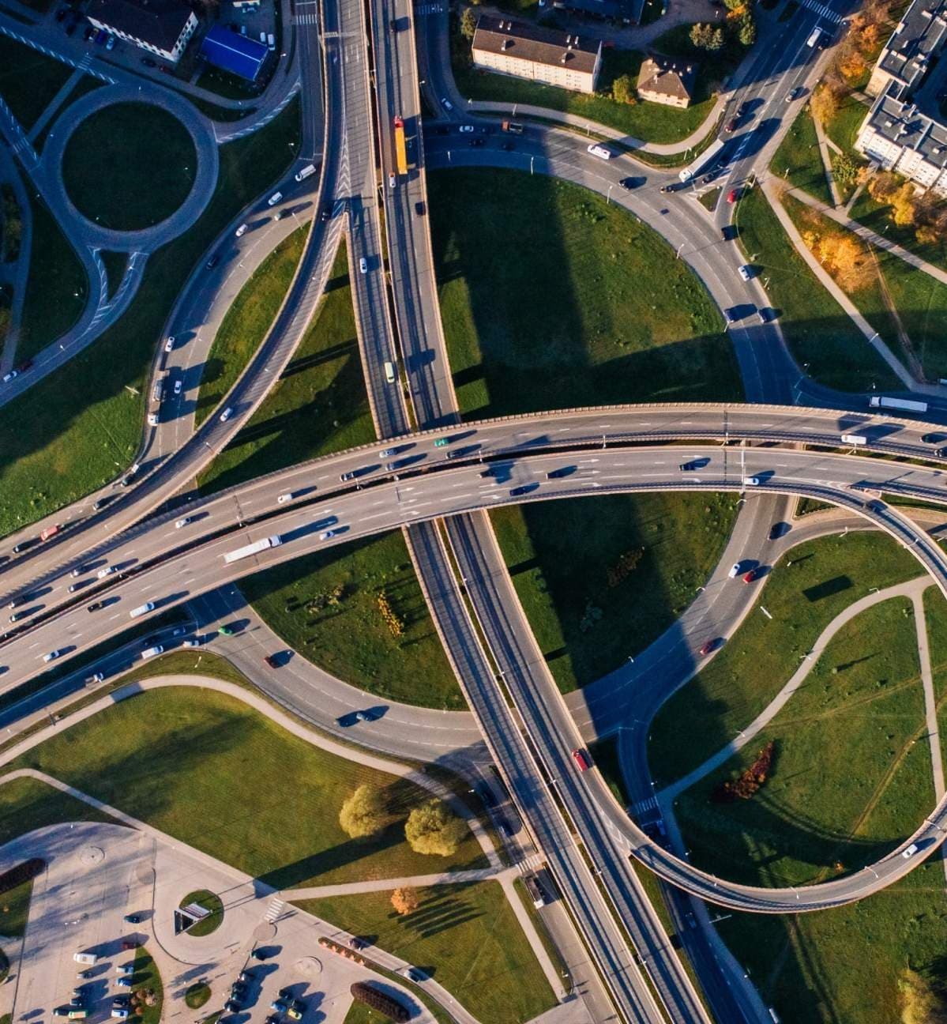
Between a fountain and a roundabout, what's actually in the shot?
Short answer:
roundabout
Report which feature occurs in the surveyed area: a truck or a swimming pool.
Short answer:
truck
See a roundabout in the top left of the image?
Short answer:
Yes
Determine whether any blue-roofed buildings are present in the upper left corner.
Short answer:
Yes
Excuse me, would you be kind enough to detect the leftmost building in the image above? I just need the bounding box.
[86,0,199,66]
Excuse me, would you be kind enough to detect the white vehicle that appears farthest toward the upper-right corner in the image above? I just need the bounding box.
[805,24,824,49]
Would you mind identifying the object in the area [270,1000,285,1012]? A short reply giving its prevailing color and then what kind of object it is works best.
blue vehicle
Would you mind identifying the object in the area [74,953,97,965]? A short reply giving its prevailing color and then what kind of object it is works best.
white vehicle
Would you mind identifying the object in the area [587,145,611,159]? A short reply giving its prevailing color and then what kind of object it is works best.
white vehicle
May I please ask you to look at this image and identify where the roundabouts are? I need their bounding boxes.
[43,77,219,251]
